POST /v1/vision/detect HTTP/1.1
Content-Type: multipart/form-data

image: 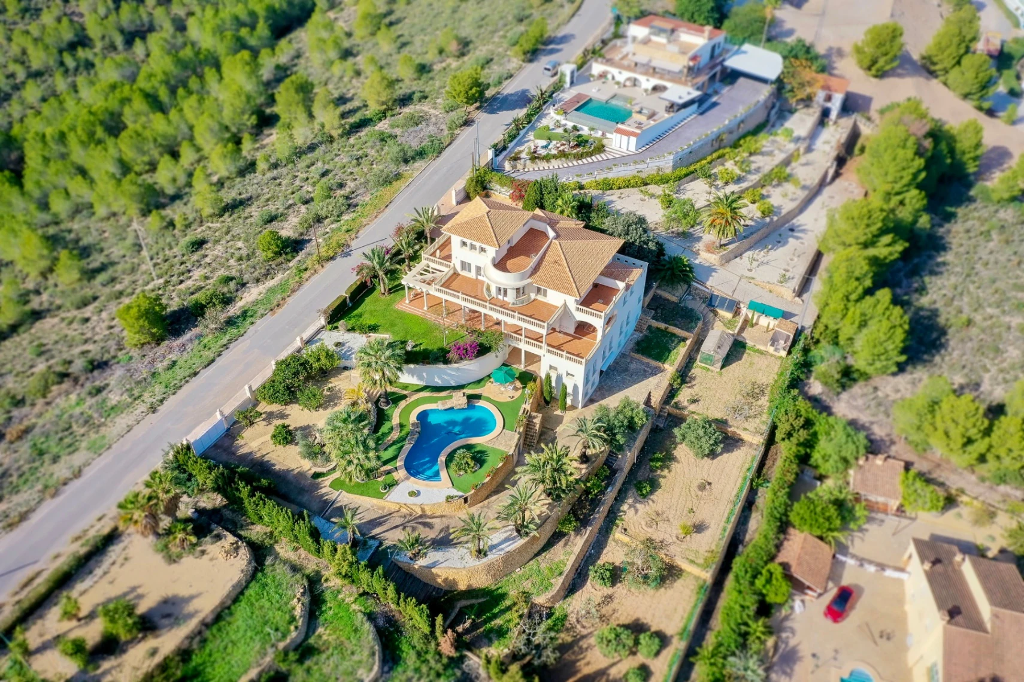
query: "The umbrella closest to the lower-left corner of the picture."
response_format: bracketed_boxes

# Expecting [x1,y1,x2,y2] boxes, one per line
[490,365,518,392]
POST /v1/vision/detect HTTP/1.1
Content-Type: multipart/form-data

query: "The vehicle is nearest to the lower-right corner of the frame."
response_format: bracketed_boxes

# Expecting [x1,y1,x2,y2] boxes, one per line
[825,578,858,628]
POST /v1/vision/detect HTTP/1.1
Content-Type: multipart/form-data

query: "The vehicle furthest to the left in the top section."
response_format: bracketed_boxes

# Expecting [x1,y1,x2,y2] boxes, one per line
[539,61,563,76]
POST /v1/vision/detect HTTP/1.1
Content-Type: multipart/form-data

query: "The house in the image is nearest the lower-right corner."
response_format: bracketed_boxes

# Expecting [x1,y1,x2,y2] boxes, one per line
[895,538,1024,682]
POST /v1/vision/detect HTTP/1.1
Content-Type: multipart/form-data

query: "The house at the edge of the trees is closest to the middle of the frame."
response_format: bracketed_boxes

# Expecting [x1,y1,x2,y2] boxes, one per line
[396,195,649,409]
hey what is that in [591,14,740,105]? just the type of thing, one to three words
house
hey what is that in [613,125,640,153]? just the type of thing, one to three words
shed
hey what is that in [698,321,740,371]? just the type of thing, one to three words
greenhouse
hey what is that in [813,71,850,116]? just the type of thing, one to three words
shed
